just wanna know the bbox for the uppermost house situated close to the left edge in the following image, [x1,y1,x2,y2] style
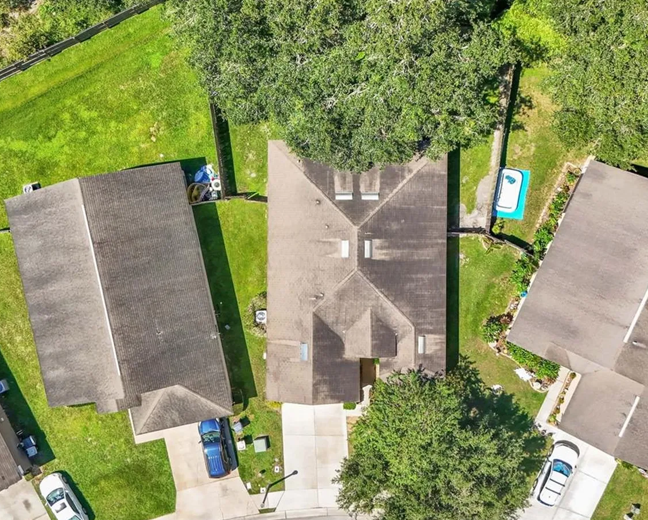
[4,161,236,435]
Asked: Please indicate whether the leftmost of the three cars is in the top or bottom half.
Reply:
bottom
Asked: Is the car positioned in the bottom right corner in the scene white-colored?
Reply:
Yes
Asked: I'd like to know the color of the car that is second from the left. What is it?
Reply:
blue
